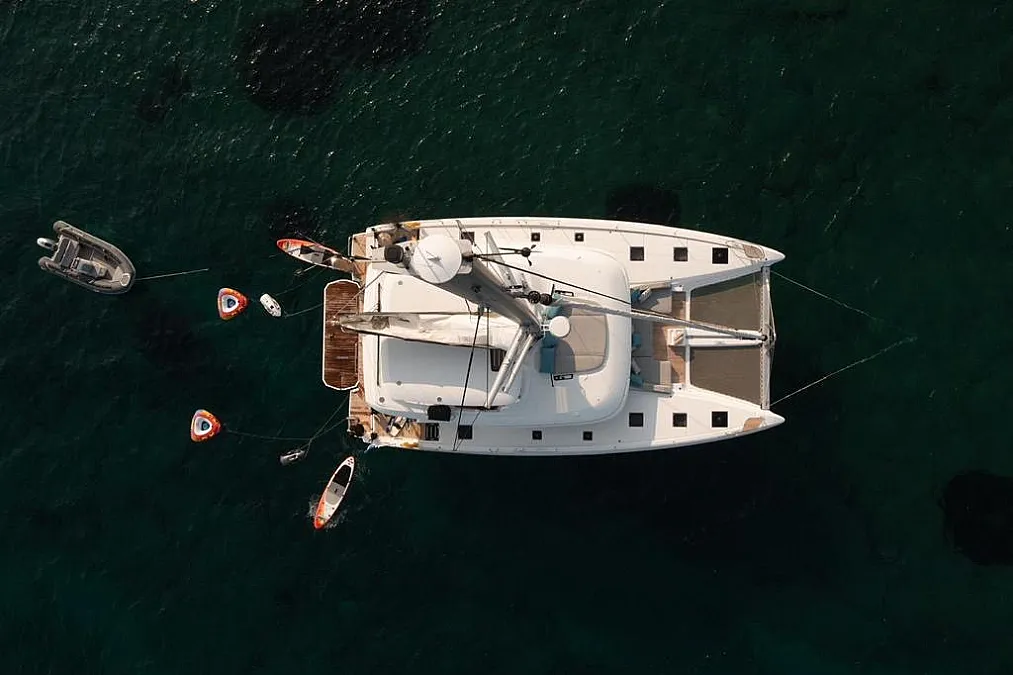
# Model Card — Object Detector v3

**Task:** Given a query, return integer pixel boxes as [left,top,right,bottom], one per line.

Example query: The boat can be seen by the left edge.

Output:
[37,219,138,292]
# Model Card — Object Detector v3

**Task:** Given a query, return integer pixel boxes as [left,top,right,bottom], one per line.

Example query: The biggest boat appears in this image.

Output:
[322,217,787,457]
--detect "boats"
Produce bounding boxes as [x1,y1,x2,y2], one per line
[37,219,138,292]
[322,217,787,457]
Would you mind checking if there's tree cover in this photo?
No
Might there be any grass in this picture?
No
